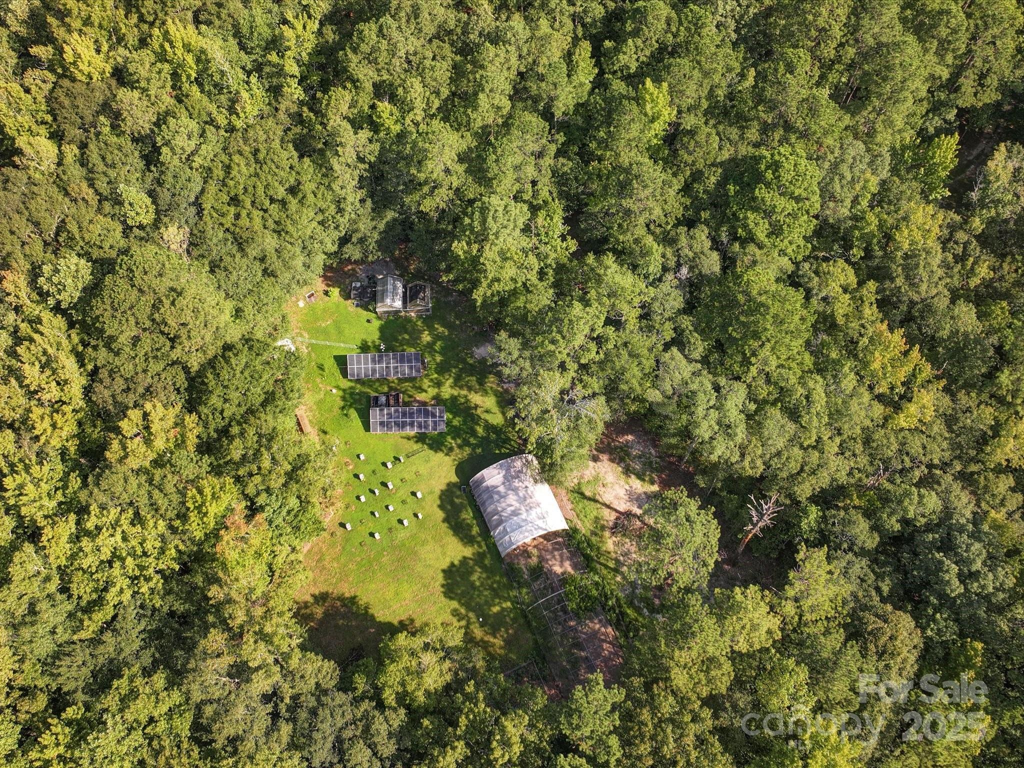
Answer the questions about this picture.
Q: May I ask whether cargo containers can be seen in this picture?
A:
No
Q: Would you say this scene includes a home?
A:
Yes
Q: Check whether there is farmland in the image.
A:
No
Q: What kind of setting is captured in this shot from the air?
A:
forest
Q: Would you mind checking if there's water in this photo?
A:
No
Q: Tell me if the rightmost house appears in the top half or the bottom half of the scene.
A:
bottom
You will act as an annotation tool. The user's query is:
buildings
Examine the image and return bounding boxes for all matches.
[376,275,404,316]
[403,281,431,314]
[469,452,630,695]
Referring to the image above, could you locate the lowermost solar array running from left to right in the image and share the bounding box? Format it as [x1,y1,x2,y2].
[370,407,446,433]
